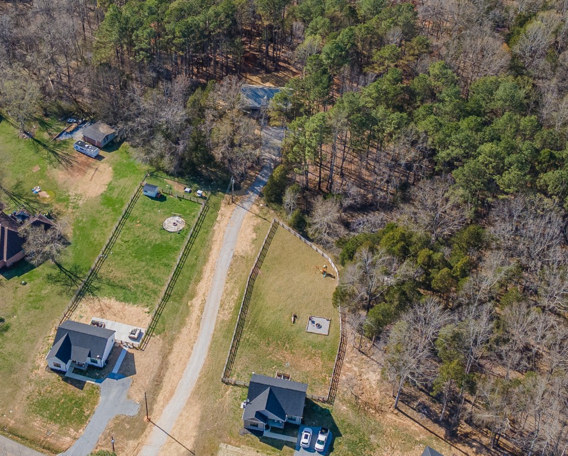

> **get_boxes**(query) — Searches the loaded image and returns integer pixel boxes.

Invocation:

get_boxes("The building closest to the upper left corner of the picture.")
[82,122,119,151]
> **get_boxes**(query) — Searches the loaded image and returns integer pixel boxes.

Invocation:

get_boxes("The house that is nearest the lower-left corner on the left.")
[45,319,117,372]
